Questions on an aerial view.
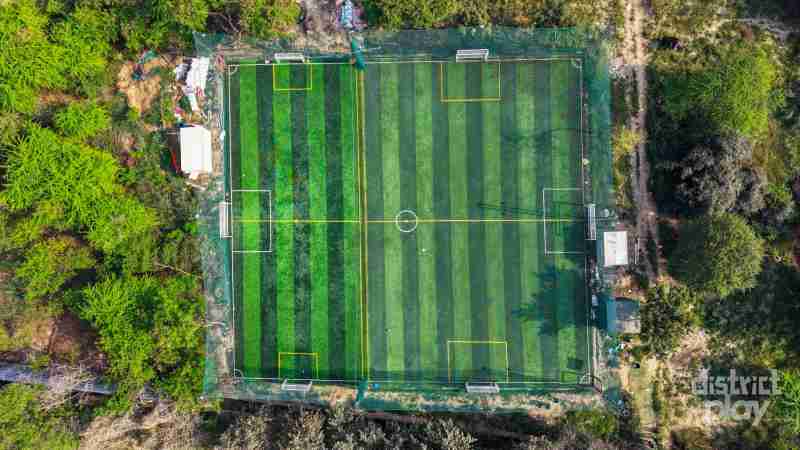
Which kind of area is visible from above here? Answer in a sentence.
It's a sports ground.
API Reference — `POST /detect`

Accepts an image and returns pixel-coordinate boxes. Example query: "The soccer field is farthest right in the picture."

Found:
[366,55,592,389]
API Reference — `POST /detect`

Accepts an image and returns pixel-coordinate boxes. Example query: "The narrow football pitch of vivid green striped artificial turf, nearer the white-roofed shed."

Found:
[226,58,372,385]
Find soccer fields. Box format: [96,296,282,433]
[366,55,592,389]
[226,58,372,385]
